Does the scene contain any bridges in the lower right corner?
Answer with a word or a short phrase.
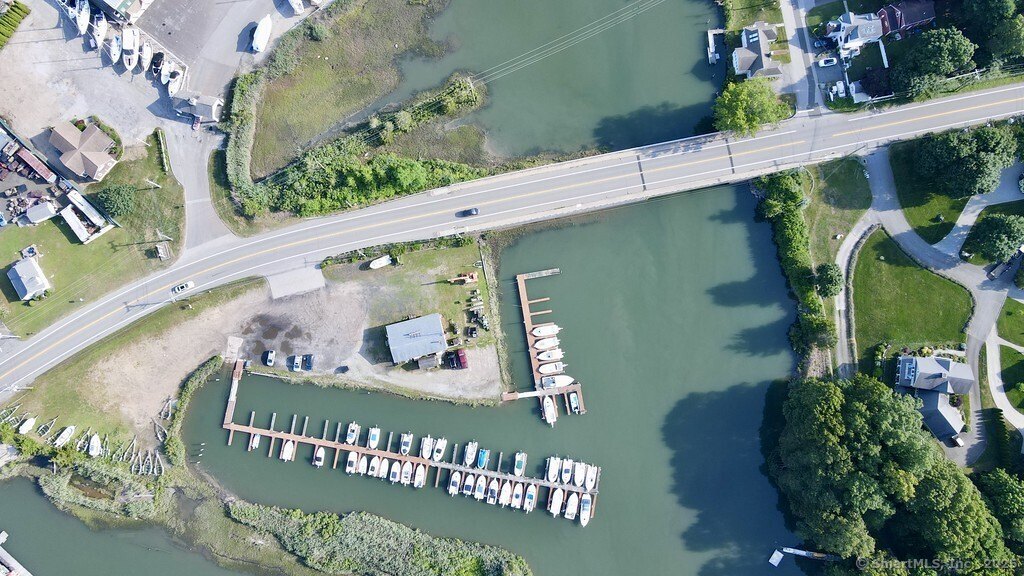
No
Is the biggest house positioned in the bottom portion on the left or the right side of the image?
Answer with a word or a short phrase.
right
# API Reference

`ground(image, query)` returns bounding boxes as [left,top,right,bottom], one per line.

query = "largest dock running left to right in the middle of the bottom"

[220,357,602,520]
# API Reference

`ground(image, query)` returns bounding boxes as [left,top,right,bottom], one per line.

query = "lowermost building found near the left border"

[10,256,56,300]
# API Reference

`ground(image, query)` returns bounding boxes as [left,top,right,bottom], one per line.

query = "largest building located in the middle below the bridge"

[384,311,450,362]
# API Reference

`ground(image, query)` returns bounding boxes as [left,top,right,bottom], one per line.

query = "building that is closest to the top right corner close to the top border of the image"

[874,0,936,42]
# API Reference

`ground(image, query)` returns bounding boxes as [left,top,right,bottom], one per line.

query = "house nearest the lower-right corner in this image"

[892,352,974,441]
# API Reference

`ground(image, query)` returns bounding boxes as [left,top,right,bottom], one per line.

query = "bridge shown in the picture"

[426,119,804,238]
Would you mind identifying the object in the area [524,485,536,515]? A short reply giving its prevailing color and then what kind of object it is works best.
white boat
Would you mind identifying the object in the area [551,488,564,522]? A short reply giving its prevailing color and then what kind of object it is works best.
white boat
